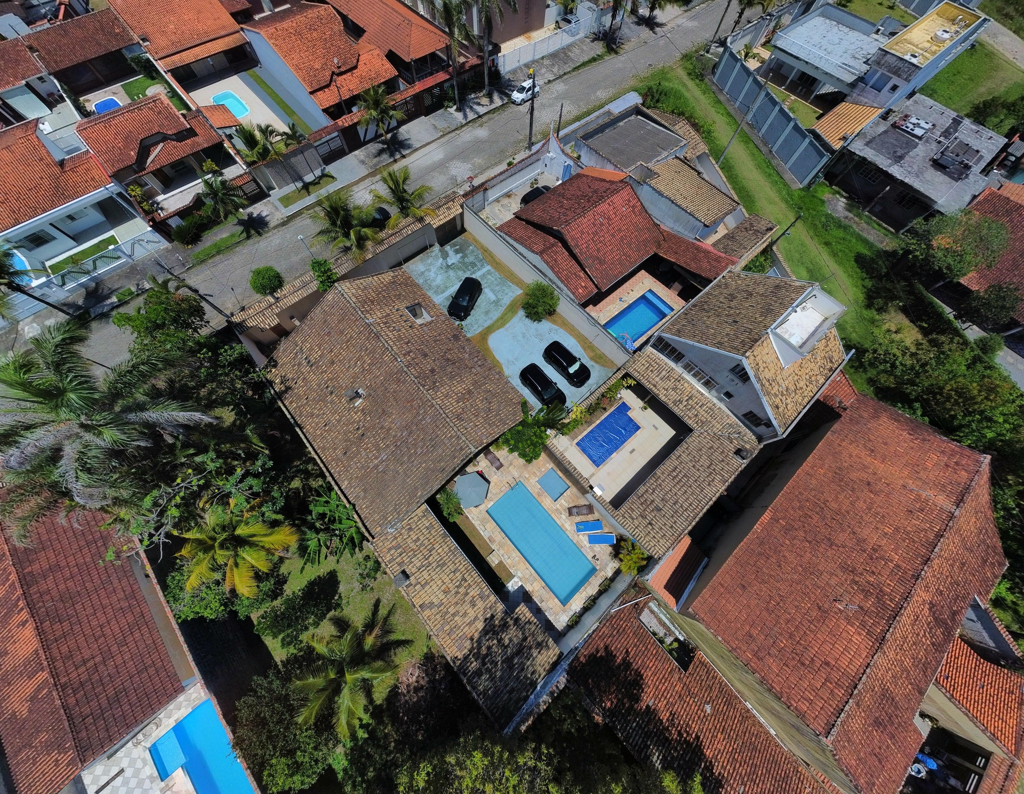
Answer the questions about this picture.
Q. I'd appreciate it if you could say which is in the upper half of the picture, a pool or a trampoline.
pool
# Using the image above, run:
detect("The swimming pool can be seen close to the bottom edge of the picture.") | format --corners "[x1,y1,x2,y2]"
[148,699,254,794]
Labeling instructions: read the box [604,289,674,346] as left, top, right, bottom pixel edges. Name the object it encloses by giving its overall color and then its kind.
blue swimming pool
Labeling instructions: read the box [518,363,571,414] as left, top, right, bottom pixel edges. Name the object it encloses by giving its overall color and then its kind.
black car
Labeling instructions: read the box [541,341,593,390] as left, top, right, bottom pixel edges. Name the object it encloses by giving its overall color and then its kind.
black car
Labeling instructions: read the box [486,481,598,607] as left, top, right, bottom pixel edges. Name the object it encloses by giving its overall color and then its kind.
blue swimming pool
